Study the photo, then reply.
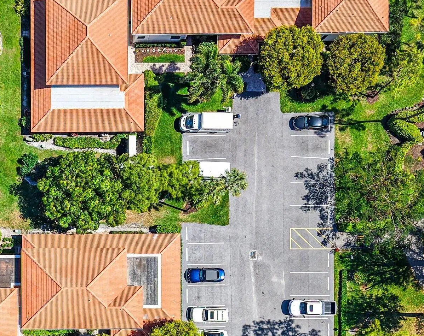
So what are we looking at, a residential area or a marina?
residential area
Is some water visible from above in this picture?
No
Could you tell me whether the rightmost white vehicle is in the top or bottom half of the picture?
bottom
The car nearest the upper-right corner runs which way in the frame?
from left to right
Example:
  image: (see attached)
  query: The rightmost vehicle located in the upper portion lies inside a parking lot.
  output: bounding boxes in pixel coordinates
[290,112,331,132]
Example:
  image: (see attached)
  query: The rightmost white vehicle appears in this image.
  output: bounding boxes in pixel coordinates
[287,298,338,317]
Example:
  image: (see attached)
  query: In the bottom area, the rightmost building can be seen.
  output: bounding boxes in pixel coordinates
[21,233,181,336]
